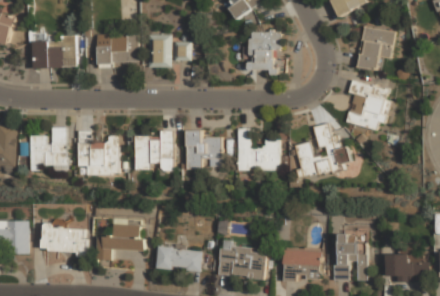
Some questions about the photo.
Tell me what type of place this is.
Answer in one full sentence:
It's a residential area.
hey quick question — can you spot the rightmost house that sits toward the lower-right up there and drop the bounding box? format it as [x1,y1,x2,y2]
[384,254,430,296]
